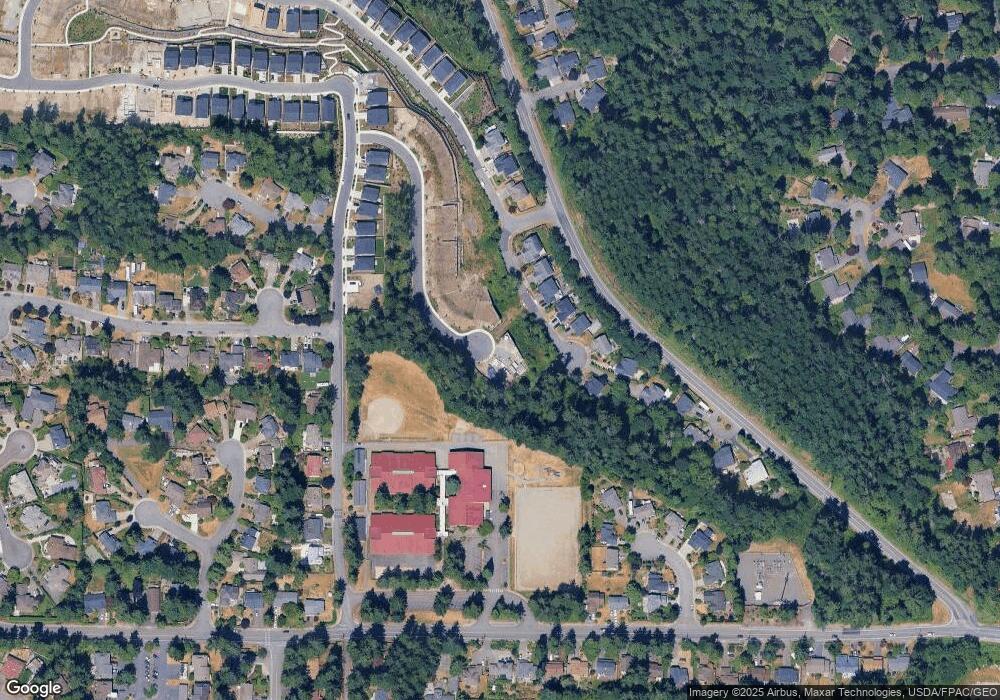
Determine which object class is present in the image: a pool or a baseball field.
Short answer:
baseball field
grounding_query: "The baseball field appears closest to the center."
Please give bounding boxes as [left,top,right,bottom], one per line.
[366,398,404,435]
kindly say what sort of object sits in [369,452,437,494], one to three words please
building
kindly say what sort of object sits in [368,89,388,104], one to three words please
house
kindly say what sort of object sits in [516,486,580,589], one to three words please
sports field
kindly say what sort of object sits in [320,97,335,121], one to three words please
house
